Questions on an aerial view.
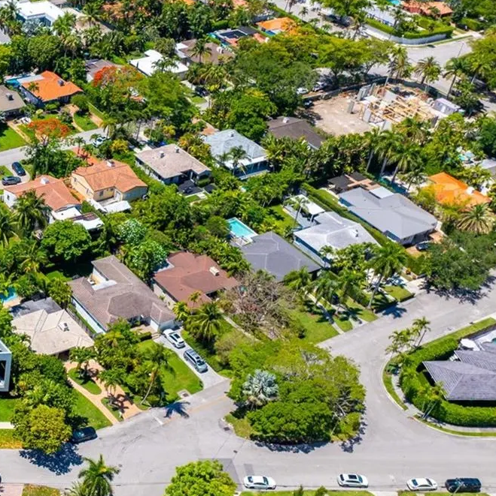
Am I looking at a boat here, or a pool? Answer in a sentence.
Looking from above, you can make out a pool.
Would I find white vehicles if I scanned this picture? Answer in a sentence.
Yes, the picture does show a white vehicle.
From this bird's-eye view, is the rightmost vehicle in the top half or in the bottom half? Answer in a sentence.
You can find the rightmost vehicle in the bottom half.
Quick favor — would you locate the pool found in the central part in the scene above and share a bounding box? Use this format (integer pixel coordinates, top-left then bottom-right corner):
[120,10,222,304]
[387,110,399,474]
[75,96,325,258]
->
[224,213,262,242]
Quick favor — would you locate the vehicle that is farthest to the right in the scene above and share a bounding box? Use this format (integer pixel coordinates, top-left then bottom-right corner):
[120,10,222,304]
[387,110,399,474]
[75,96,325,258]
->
[440,475,488,495]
